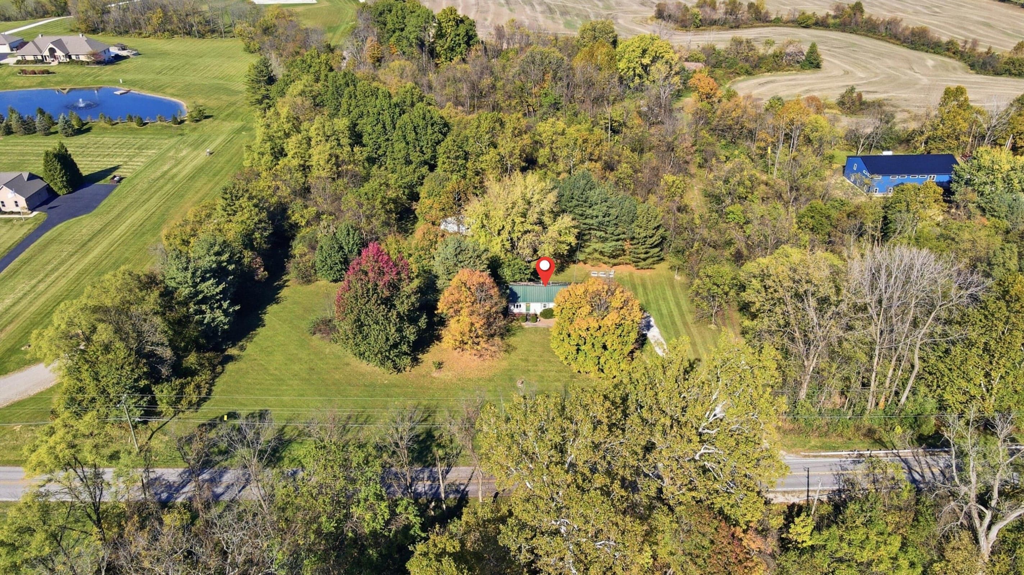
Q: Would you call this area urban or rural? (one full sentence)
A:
The land in this view is best described as rural.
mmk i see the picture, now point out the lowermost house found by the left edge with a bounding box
[0,163,58,212]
